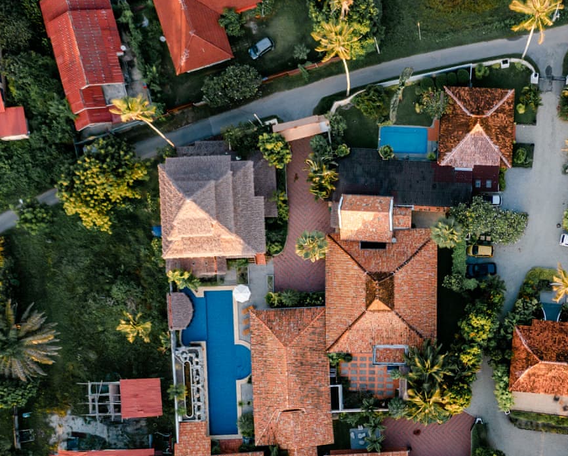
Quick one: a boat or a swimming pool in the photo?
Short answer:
swimming pool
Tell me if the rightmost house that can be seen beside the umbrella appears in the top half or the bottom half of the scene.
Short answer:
bottom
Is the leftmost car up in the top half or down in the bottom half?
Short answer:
top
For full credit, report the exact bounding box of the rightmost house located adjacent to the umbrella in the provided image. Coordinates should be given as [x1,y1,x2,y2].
[249,306,333,456]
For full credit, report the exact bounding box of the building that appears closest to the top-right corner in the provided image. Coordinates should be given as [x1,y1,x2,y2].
[439,85,515,169]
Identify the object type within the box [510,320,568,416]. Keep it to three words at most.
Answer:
house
